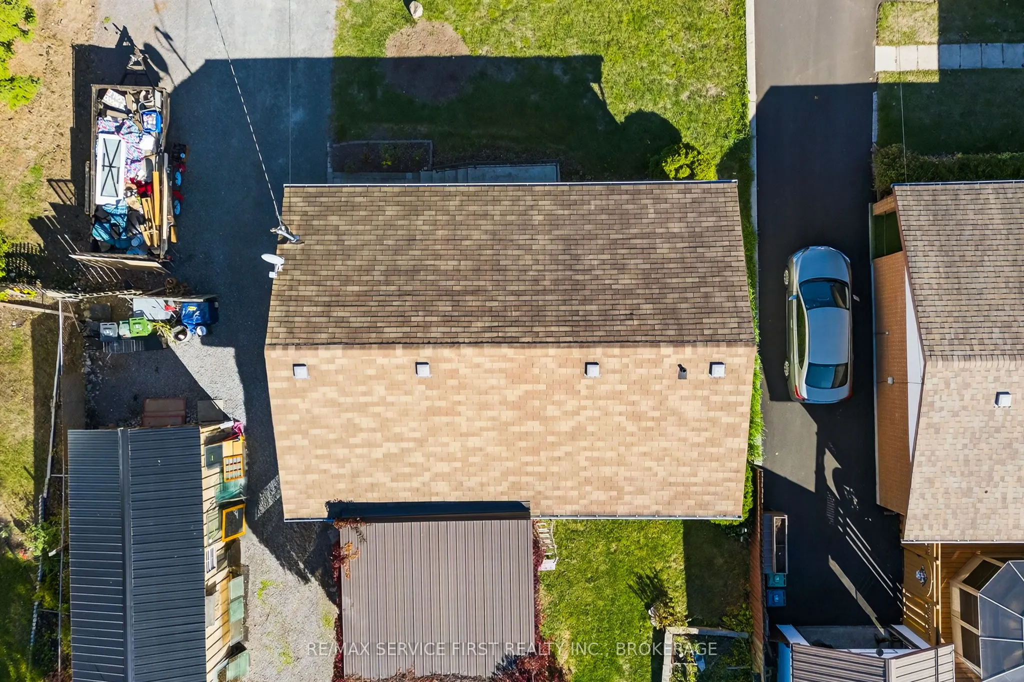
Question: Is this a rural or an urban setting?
urban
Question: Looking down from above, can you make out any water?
No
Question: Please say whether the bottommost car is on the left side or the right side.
right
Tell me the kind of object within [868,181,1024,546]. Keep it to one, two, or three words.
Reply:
house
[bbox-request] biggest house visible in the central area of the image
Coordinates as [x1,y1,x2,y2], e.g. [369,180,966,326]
[264,179,757,523]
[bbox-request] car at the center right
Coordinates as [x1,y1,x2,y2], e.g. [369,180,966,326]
[781,246,858,405]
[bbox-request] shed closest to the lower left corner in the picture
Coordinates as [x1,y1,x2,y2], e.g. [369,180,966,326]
[67,425,222,682]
